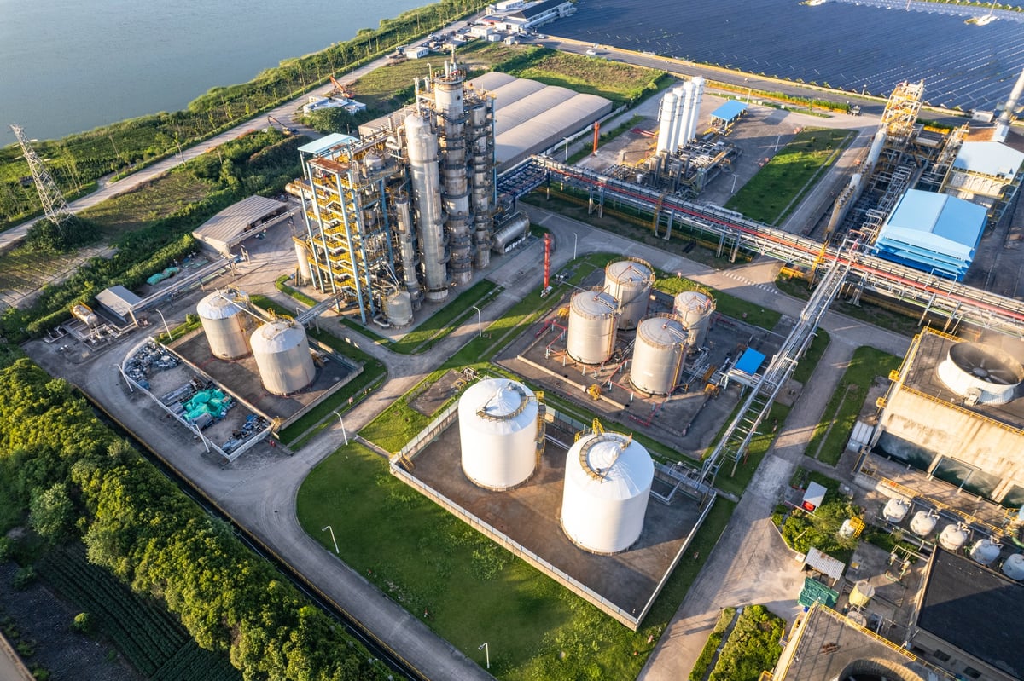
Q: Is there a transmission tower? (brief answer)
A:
Yes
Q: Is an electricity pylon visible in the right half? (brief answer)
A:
No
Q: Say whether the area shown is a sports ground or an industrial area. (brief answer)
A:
industrial area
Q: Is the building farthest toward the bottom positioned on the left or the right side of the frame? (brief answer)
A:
right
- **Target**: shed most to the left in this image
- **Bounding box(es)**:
[96,284,151,320]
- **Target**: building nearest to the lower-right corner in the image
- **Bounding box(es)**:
[901,546,1024,681]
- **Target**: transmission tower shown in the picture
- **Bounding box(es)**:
[6,120,78,228]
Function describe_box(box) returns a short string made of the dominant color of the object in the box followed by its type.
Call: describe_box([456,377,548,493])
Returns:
white storage tank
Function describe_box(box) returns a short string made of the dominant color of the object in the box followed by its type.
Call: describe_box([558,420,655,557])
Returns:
white storage tank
